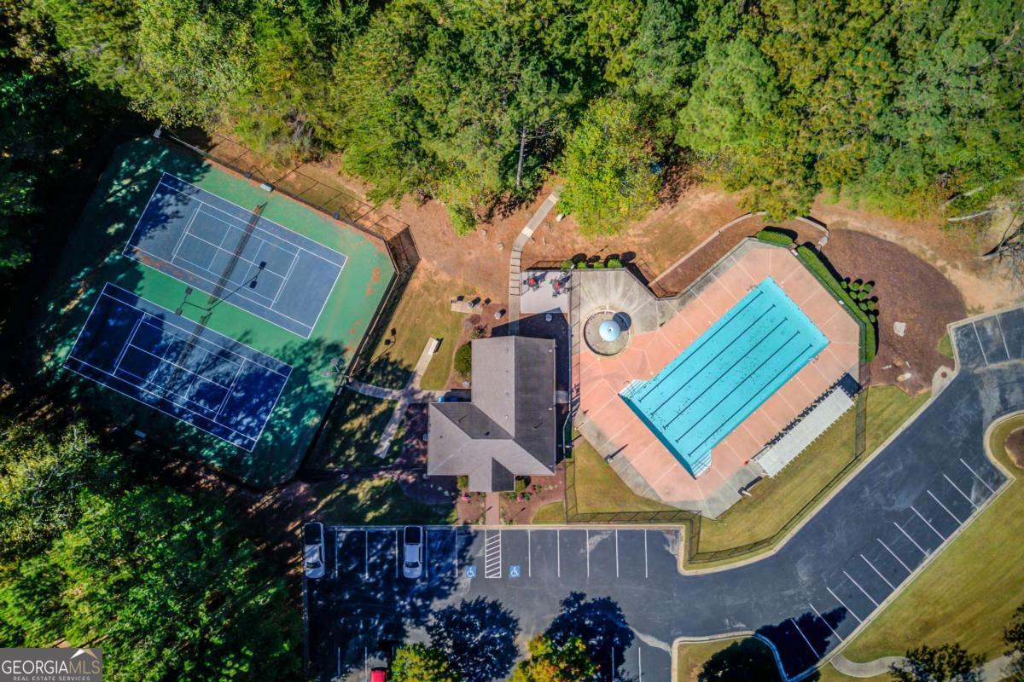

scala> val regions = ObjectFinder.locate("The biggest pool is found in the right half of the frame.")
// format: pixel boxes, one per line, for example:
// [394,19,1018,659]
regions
[619,277,829,479]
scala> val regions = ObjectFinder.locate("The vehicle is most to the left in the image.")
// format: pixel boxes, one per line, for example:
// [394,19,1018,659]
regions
[301,523,324,580]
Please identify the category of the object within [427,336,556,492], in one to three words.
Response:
building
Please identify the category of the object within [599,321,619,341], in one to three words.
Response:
fountain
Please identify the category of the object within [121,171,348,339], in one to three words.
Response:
tennis court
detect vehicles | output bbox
[369,668,386,682]
[402,525,423,581]
[301,523,324,580]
